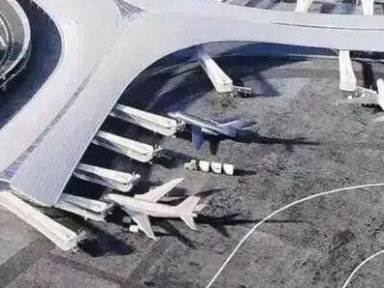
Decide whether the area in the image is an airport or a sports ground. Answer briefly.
airport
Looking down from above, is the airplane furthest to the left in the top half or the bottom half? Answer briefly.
bottom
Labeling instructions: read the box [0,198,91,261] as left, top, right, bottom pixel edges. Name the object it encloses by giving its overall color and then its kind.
white jet bridge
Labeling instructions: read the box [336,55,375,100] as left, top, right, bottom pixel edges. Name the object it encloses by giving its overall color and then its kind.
white jet bridge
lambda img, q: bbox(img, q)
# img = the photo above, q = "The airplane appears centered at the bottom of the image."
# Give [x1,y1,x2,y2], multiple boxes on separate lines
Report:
[105,180,202,240]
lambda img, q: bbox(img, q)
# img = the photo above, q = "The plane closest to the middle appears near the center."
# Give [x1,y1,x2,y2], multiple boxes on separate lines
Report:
[169,107,248,151]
